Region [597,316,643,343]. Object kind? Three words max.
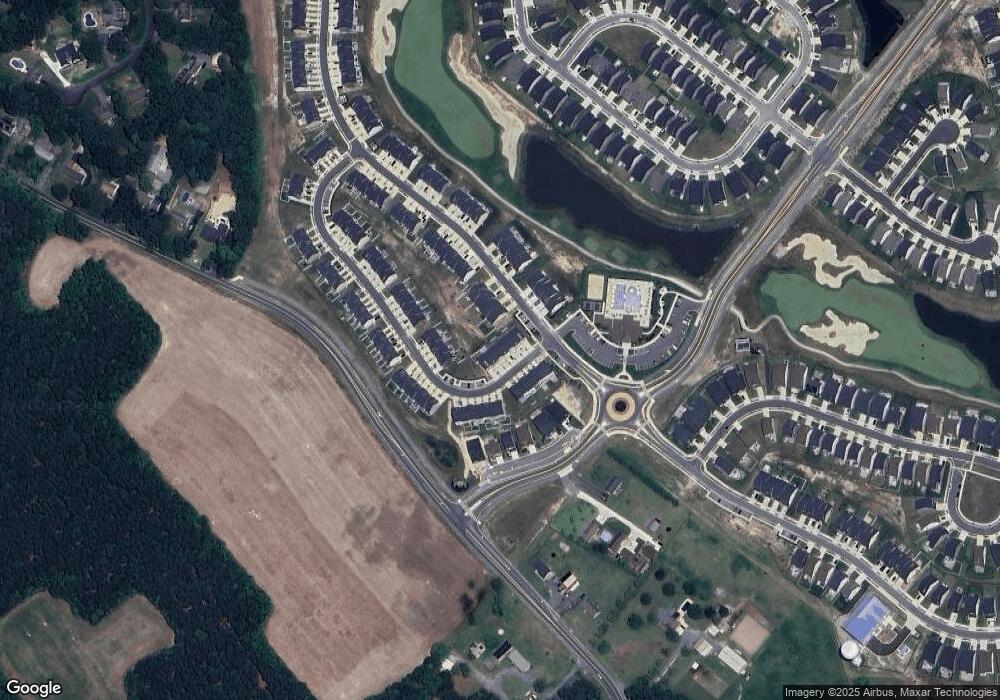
building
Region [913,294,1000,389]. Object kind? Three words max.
pond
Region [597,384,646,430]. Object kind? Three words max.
roundabout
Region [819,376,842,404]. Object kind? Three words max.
house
